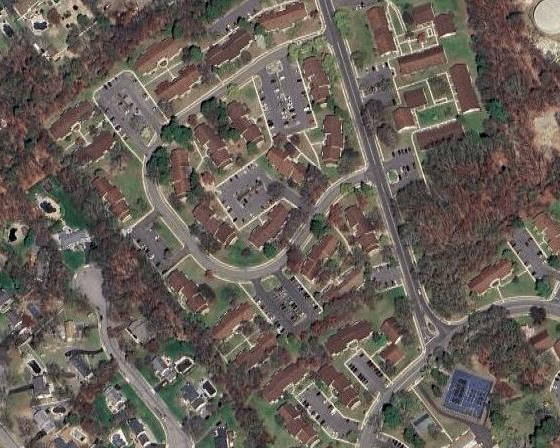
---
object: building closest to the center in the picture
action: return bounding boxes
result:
[249,205,293,251]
